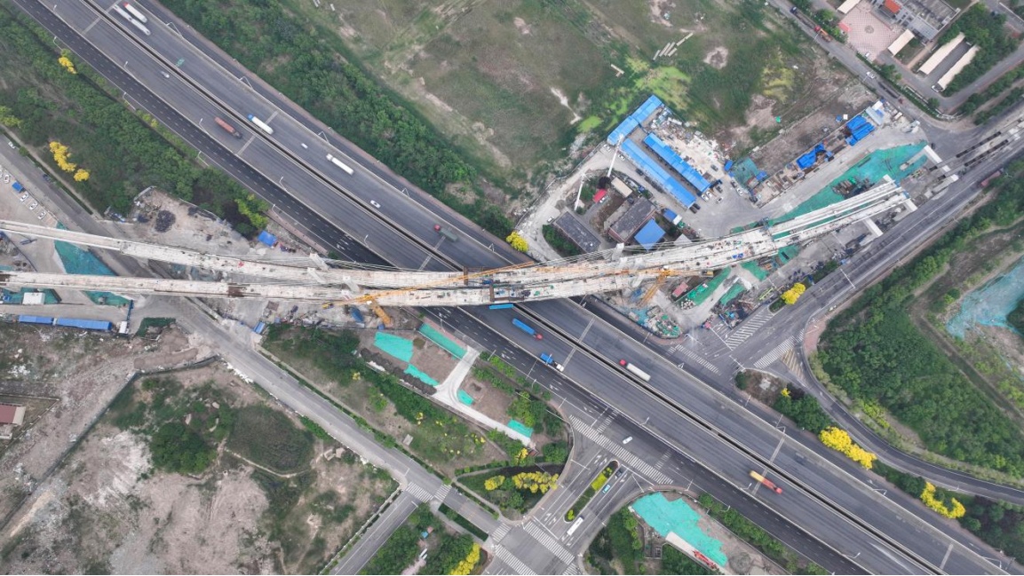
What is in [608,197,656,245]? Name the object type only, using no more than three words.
building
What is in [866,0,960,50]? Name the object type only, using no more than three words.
building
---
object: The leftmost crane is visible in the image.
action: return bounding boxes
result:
[324,258,533,331]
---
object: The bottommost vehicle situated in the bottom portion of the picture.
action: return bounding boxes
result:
[566,515,585,535]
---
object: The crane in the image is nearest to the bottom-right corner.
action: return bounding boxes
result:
[536,264,714,313]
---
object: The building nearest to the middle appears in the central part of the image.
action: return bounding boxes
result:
[553,211,601,257]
